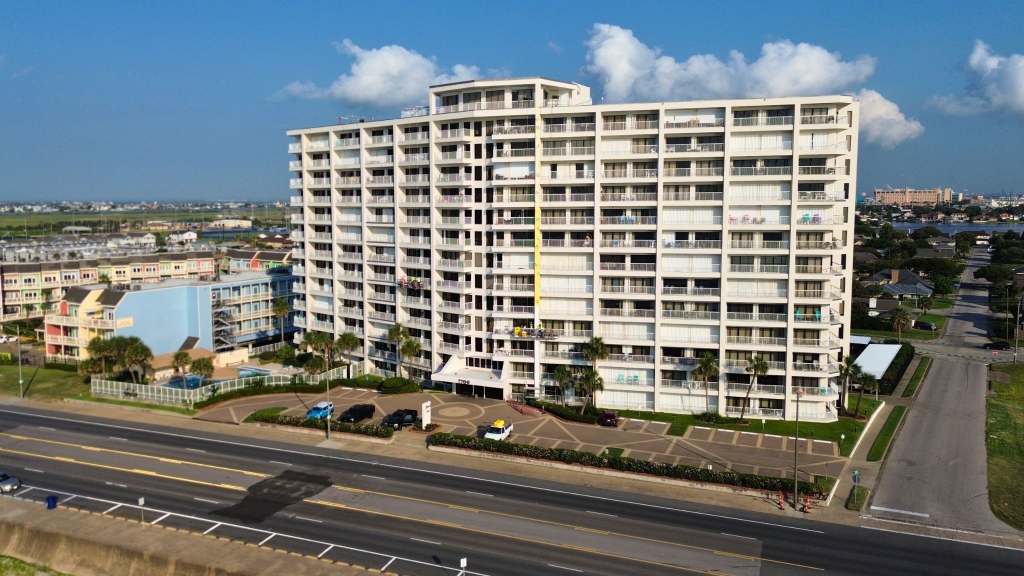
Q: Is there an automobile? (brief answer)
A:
Yes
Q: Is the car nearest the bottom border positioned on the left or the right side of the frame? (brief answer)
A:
left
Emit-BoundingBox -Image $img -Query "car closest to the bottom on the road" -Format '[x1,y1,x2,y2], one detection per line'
[0,469,23,491]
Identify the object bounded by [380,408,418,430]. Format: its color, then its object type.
black truck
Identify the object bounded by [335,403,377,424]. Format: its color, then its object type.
black truck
